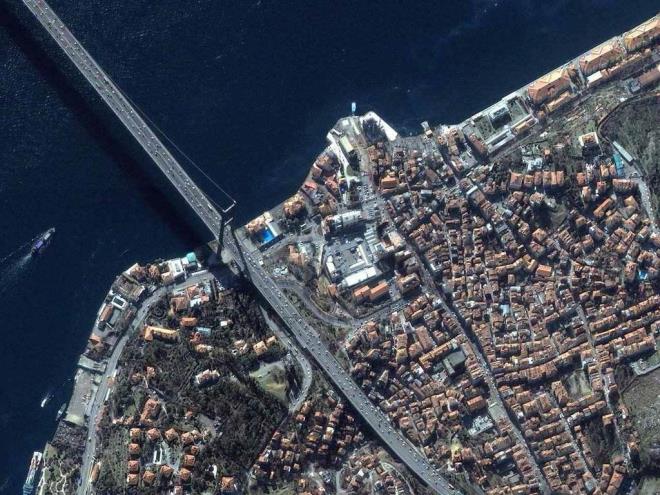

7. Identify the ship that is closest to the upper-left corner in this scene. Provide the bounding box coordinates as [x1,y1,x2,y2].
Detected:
[32,229,54,252]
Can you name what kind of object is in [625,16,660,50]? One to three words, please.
building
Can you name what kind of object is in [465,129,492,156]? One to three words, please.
house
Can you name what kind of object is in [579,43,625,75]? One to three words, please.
building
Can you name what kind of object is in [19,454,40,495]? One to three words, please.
ship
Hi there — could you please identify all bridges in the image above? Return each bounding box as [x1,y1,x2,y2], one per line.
[23,0,468,495]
